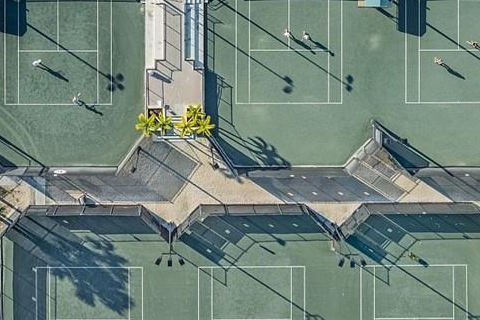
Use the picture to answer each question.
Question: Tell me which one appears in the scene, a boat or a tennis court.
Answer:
tennis court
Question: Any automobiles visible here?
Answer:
No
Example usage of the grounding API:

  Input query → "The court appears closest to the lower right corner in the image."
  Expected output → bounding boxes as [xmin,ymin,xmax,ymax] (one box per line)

[336,213,480,320]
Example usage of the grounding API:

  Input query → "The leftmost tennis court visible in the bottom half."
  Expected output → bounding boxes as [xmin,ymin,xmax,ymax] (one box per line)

[1,214,171,320]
